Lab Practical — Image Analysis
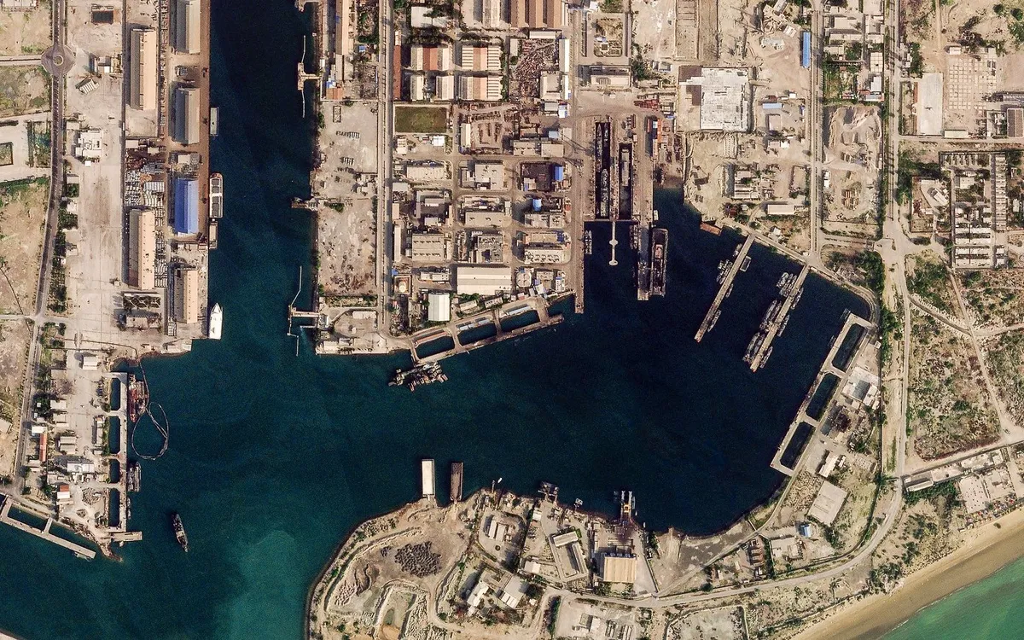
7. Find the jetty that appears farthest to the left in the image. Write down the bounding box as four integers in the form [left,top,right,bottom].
[0,496,96,558]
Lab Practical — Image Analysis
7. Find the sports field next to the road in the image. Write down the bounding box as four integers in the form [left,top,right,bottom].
[395,107,447,133]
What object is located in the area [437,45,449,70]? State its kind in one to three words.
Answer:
building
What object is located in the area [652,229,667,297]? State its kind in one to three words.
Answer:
ship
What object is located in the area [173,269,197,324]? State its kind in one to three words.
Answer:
building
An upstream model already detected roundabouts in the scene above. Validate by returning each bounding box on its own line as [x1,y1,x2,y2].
[41,45,75,75]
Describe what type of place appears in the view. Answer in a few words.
port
